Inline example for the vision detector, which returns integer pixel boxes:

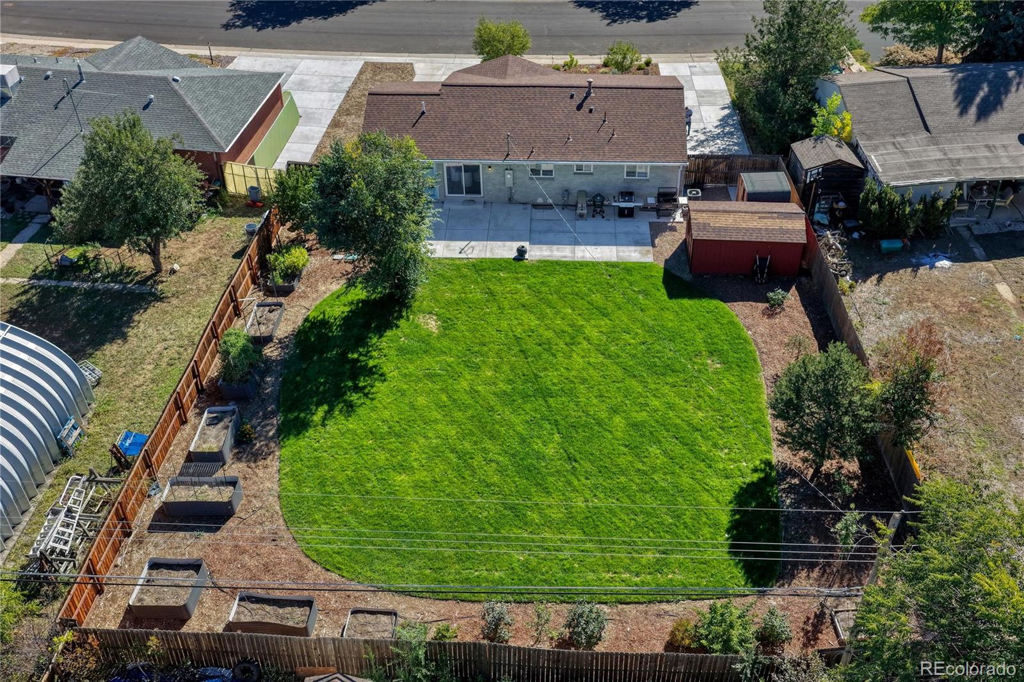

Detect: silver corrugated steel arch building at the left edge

[0,324,105,566]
